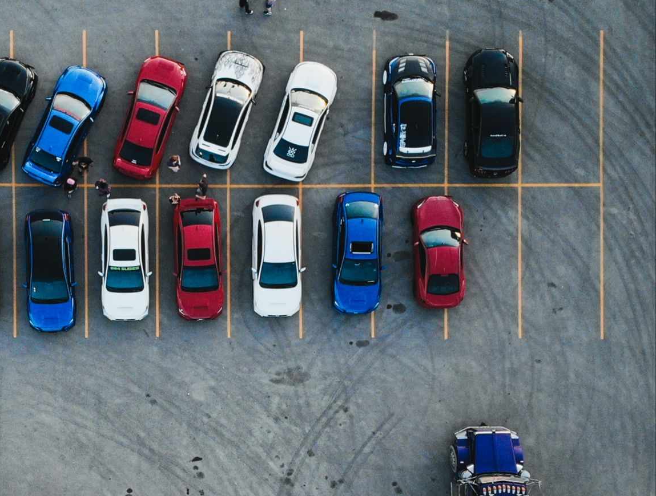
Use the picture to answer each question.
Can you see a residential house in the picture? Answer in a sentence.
No, the picture doesn't show any residential house.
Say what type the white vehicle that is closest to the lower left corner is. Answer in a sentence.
The white vehicle that is closest to the lower left corner is a car.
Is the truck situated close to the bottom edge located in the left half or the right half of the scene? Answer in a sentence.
The truck situated close to the bottom edge is on the right side of the image.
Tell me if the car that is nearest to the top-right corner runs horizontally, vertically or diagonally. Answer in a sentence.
What the image shows is the car that is nearest to the top-right corner lying vertically.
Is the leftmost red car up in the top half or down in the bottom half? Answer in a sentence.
The leftmost red car is in the top half of the image.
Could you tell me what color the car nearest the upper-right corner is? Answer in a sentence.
The car nearest the upper-right corner is black.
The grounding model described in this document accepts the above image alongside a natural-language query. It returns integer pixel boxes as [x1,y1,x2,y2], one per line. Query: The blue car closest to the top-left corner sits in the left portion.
[21,65,105,186]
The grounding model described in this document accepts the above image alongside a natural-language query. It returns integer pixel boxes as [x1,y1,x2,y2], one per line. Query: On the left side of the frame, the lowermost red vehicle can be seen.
[170,197,230,320]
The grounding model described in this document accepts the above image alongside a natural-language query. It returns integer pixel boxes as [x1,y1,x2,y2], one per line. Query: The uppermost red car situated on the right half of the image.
[411,195,472,309]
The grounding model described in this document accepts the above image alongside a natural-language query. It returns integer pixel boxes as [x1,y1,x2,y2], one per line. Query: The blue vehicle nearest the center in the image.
[331,189,390,314]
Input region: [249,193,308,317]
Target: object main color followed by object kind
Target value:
white car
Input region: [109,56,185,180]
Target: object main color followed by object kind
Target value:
red car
